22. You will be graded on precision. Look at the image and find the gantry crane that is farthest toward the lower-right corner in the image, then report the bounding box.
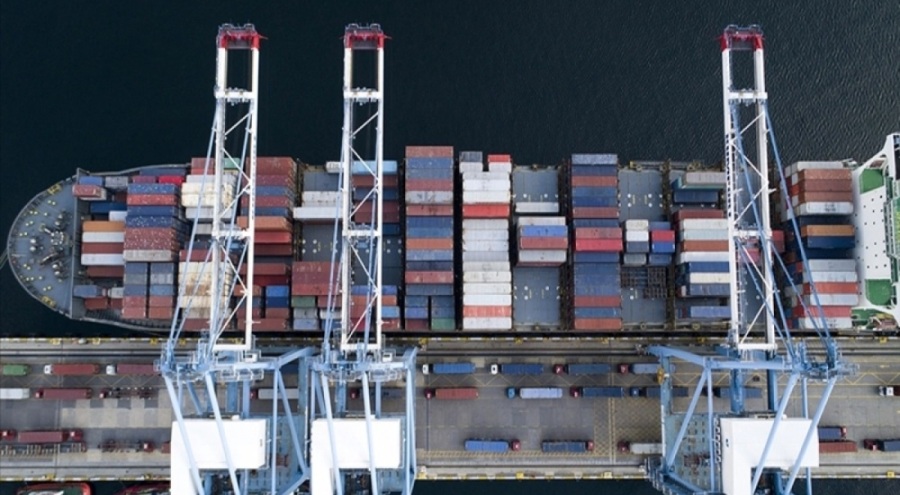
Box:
[636,22,850,495]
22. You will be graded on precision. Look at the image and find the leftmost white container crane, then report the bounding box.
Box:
[151,21,326,495]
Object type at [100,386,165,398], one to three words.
vehicle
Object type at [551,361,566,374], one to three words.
vehicle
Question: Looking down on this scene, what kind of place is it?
port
